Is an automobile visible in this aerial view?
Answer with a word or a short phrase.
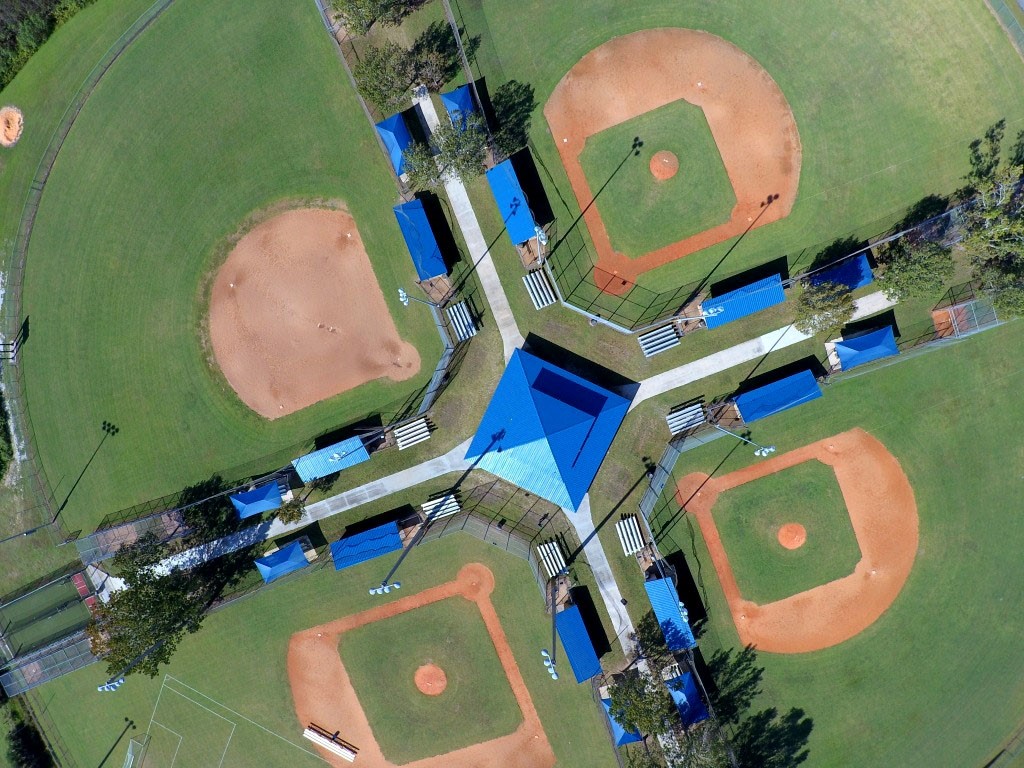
No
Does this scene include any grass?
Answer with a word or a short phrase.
Yes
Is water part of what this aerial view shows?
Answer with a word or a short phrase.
No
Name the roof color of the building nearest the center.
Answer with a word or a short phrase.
blue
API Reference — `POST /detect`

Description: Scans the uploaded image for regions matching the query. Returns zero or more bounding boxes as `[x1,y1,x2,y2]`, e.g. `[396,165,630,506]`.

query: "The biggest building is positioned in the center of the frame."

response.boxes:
[464,348,630,513]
